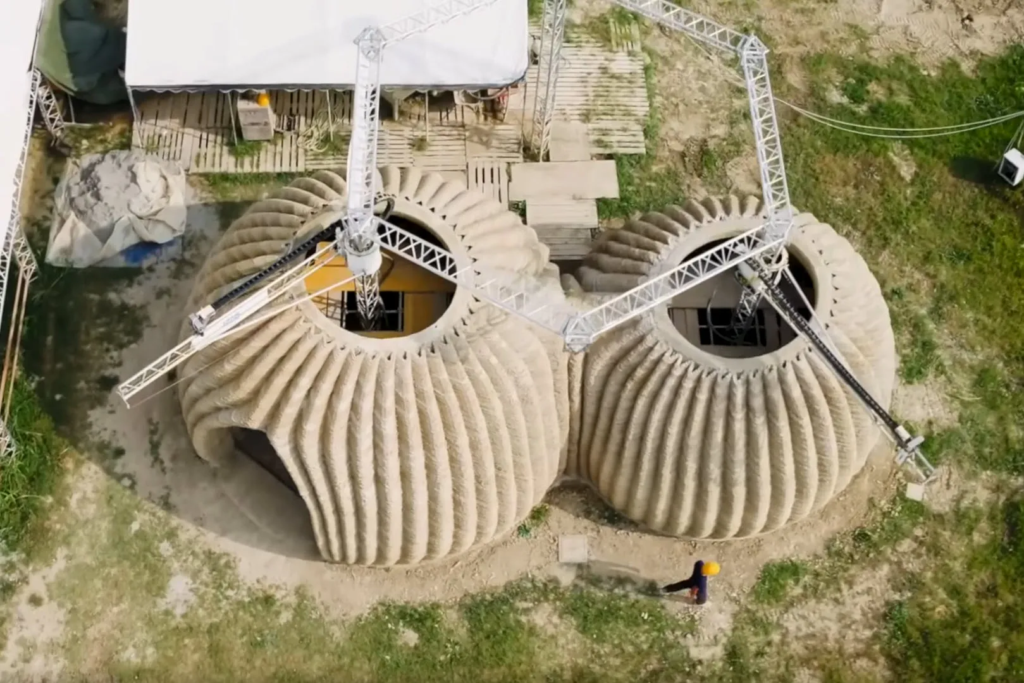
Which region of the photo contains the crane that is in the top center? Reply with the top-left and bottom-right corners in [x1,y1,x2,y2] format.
[339,0,795,361]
